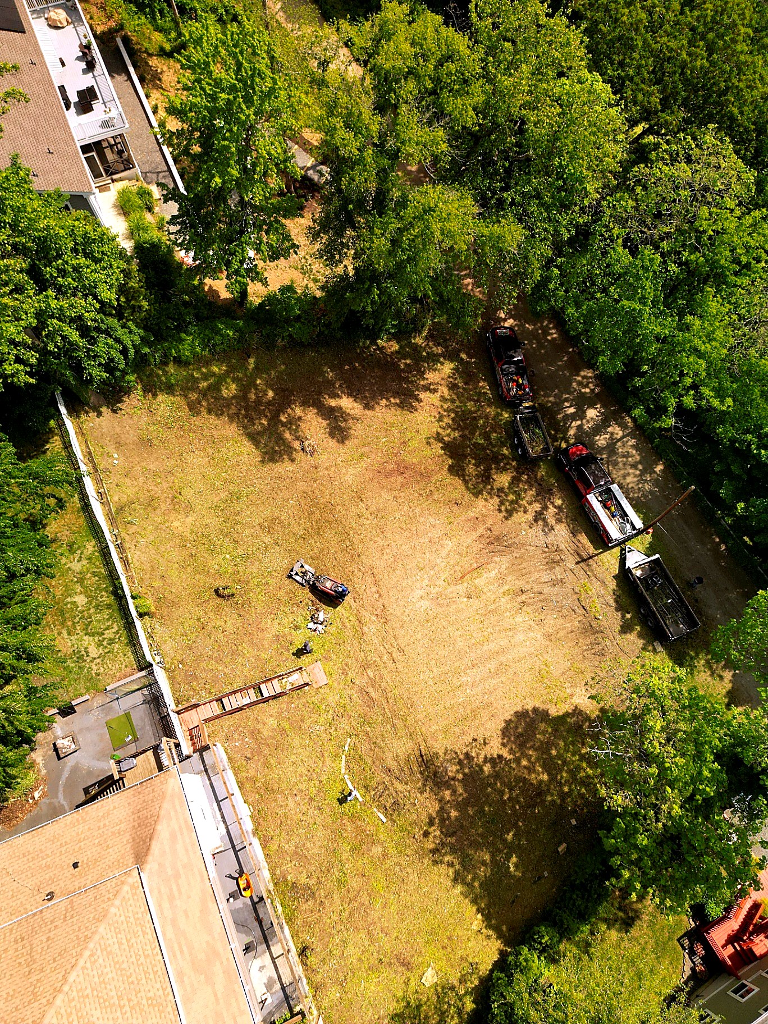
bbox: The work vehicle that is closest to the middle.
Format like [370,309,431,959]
[284,558,352,607]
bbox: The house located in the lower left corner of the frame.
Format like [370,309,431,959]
[0,764,270,1024]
